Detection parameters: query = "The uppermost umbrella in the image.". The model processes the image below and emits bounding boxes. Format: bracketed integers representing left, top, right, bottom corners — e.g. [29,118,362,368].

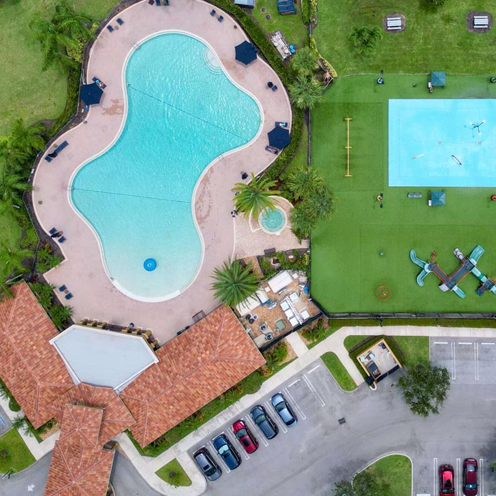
[235,41,256,65]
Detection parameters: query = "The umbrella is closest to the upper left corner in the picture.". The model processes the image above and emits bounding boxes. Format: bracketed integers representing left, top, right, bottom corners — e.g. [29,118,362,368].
[80,83,104,106]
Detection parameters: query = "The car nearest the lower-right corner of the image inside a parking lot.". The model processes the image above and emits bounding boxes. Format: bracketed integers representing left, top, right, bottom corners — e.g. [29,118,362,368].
[463,459,479,495]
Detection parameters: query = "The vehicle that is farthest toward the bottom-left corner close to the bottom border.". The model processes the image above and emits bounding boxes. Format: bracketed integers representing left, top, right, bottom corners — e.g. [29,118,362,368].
[192,445,222,483]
